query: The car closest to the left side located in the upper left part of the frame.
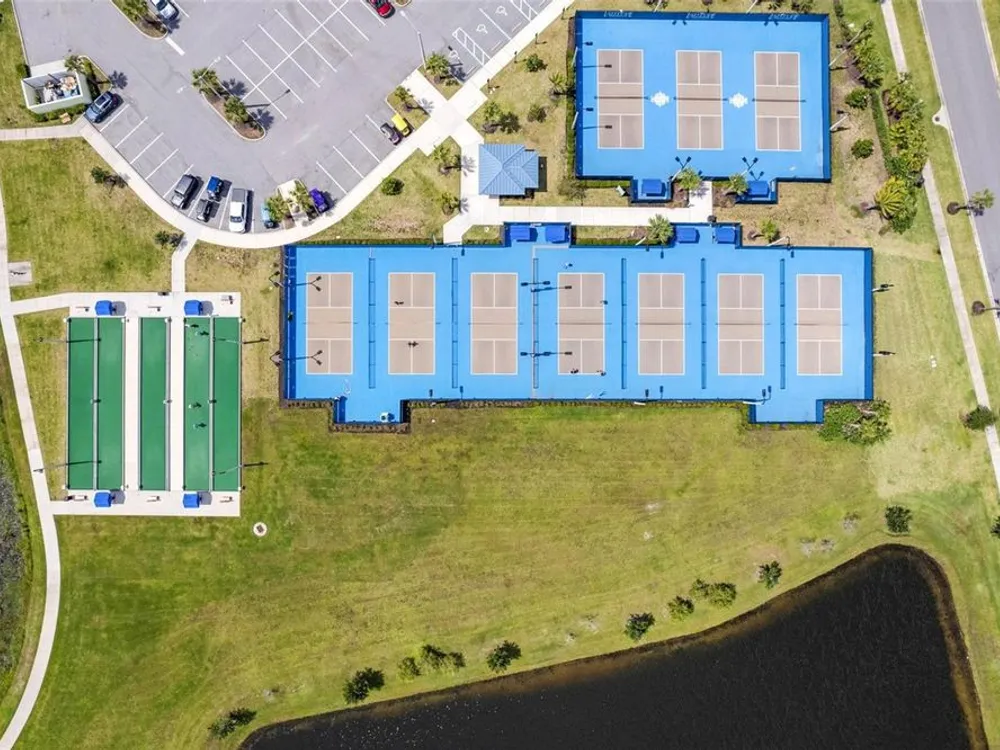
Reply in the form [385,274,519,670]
[80,87,114,121]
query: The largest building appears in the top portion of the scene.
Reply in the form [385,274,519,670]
[479,144,539,196]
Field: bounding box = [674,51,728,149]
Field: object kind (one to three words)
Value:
sports court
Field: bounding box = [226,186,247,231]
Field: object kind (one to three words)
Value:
truck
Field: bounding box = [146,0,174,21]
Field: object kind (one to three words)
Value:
car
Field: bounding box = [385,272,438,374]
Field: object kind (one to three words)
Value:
sports court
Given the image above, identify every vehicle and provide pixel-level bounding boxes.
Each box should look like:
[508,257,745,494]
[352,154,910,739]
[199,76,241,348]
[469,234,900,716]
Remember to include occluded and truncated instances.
[393,110,412,134]
[368,0,395,18]
[146,0,174,21]
[259,203,275,226]
[194,196,212,218]
[170,171,198,209]
[311,187,329,212]
[226,186,247,231]
[380,120,400,144]
[205,175,224,197]
[80,87,114,121]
